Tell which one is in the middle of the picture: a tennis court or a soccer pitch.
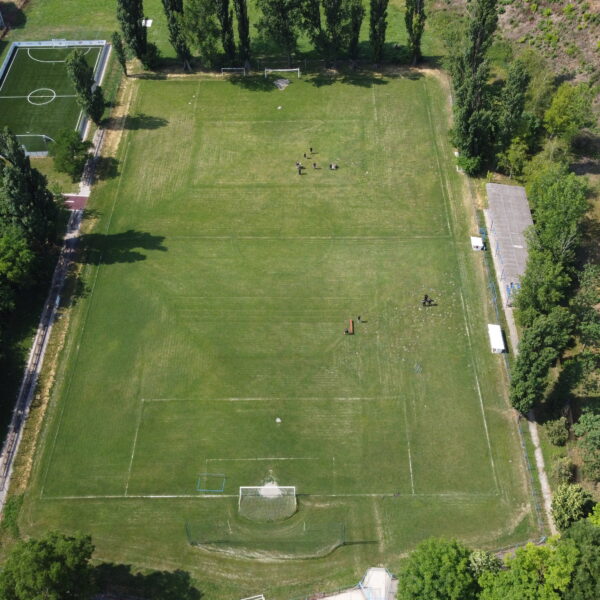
soccer pitch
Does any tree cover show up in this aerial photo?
Yes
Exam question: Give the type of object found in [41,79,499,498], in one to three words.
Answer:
soccer field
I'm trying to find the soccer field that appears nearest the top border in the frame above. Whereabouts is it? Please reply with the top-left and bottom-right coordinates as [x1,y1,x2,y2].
[0,45,107,159]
